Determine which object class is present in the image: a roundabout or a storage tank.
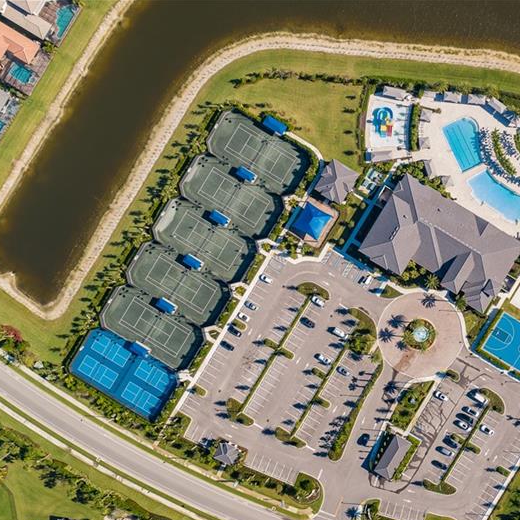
roundabout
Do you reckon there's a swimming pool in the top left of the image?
Yes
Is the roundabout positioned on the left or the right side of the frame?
right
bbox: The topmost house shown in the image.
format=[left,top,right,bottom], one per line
[0,0,53,40]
